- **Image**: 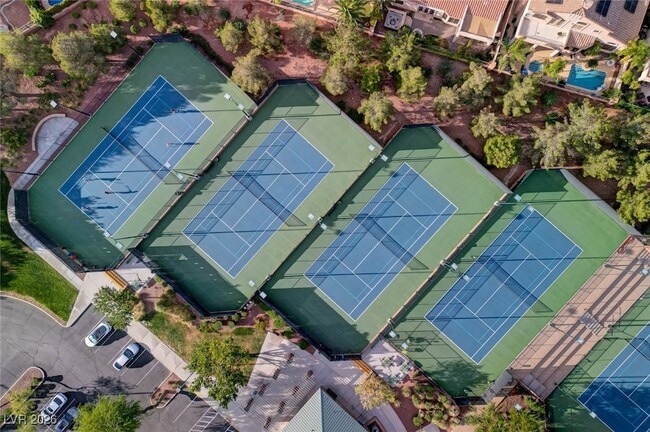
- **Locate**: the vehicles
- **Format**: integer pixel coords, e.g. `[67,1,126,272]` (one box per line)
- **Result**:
[39,389,69,420]
[51,400,83,432]
[113,341,142,370]
[86,319,113,347]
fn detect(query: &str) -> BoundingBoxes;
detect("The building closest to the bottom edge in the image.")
[280,386,374,432]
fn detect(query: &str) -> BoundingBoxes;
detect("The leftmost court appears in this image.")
[28,42,257,270]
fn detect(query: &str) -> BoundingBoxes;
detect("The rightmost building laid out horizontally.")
[506,0,650,68]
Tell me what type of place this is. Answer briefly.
sports ground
